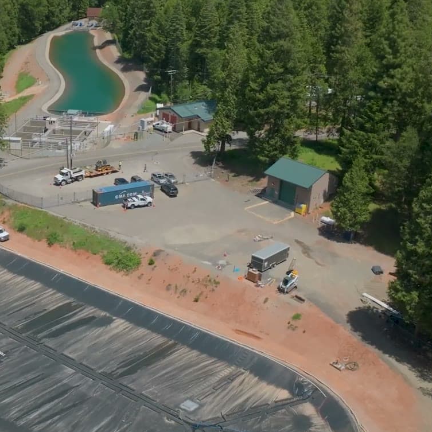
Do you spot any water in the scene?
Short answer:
Yes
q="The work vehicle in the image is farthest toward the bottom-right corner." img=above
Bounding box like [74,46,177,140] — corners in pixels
[278,272,299,292]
